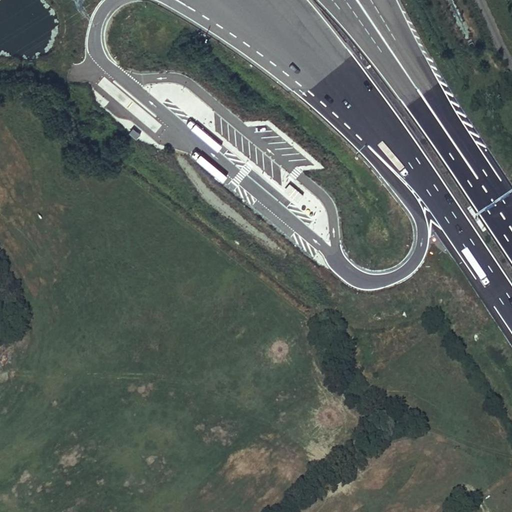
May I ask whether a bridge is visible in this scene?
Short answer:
No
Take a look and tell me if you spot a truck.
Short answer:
Yes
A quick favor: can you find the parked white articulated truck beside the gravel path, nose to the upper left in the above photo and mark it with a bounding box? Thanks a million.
[191,151,227,183]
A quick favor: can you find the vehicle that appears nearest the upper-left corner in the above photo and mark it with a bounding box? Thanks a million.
[186,120,222,152]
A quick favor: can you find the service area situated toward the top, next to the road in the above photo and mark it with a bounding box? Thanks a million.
[68,44,352,271]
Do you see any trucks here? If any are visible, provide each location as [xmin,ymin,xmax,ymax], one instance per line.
[462,247,491,286]
[191,151,227,183]
[186,120,222,152]
[378,141,410,176]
